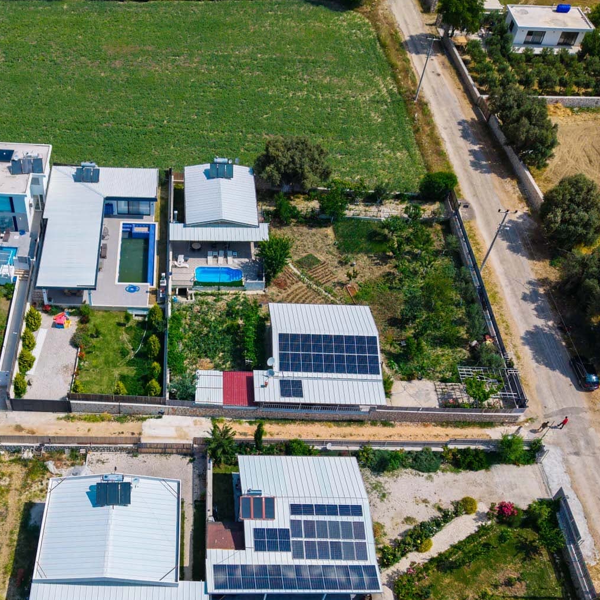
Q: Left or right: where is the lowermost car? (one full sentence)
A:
You can find the lowermost car on the right side of the picture.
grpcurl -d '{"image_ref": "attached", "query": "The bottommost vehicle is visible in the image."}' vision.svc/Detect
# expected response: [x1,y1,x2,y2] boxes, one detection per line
[565,357,600,393]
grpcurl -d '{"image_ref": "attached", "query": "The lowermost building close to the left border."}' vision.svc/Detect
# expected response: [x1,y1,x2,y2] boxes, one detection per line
[29,472,208,600]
